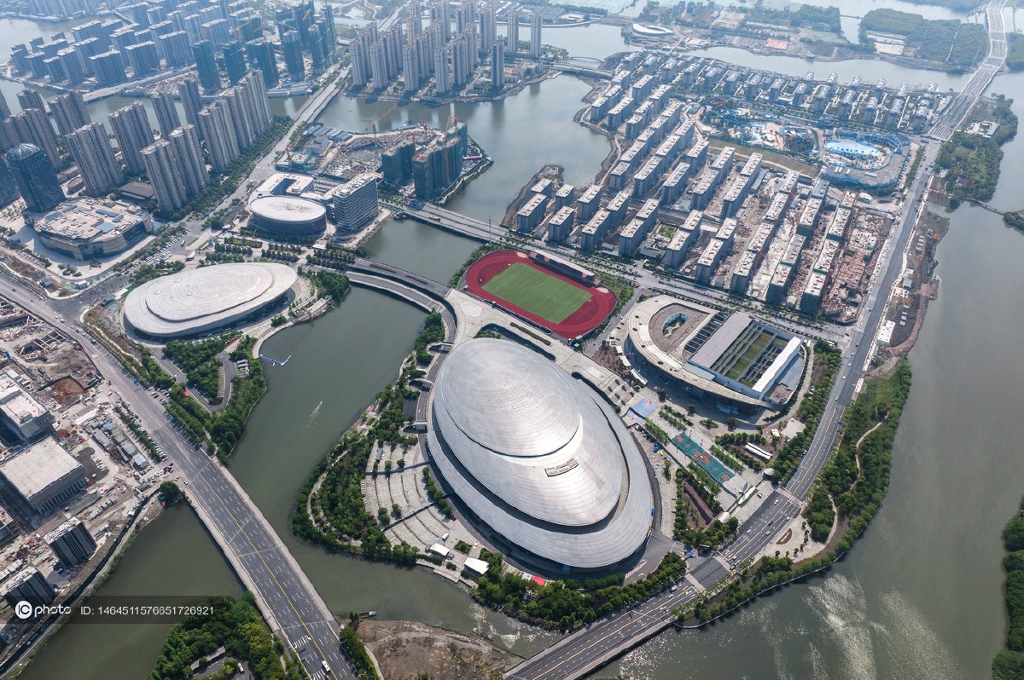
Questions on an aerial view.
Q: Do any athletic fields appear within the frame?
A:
Yes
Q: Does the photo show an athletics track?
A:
Yes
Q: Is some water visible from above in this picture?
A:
Yes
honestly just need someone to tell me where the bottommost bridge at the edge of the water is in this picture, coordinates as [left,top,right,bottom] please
[494,619,665,680]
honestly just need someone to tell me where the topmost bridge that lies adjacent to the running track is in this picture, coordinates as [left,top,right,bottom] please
[388,196,479,239]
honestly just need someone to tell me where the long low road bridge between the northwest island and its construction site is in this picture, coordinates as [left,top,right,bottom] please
[84,63,195,104]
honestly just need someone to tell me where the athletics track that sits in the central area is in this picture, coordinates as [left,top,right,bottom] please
[463,251,615,335]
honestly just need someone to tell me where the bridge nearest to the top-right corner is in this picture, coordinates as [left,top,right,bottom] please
[925,0,1009,141]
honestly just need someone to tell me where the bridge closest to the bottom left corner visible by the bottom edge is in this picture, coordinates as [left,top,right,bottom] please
[196,496,376,680]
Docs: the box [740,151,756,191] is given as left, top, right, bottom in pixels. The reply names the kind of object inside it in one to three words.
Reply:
building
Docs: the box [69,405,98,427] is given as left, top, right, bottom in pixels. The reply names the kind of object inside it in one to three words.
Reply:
shed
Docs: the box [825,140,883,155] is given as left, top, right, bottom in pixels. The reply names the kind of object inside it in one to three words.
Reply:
swimming pool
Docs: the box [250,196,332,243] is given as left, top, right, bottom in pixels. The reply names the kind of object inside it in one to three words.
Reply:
stadium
